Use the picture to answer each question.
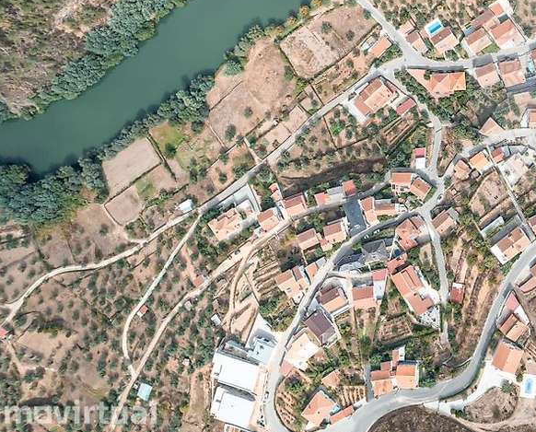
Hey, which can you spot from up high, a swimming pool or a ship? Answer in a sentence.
Of the two, only a swimming pool appears.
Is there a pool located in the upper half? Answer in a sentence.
Yes, the scene does show a pool in the upper half.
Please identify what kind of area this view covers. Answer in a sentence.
What you see here is a residential area.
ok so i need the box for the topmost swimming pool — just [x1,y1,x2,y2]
[422,16,447,39]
